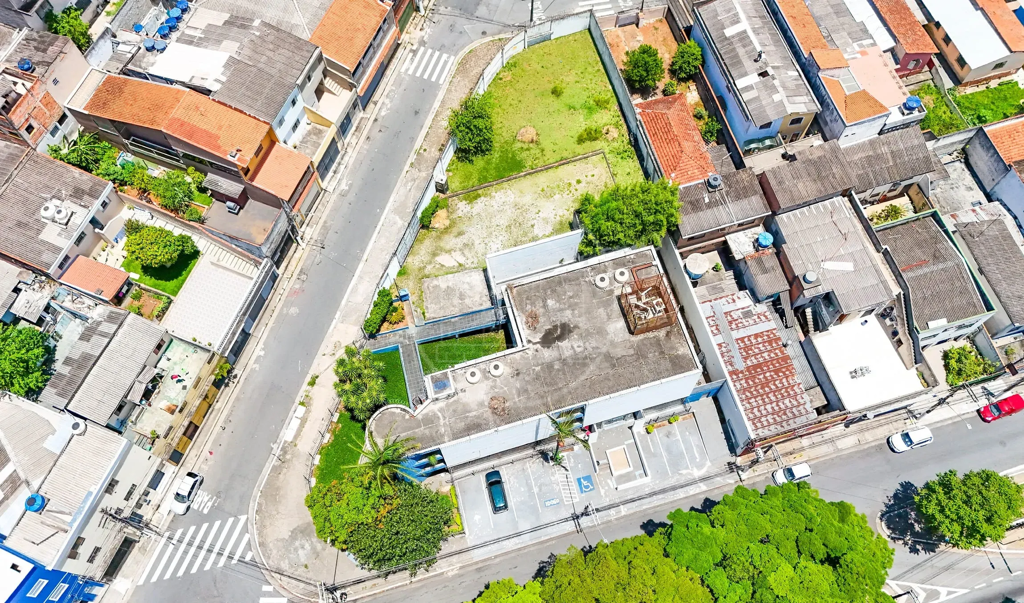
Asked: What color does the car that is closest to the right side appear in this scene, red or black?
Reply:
red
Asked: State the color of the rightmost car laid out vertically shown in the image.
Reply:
blue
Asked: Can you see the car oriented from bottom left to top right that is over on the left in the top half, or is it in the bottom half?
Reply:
bottom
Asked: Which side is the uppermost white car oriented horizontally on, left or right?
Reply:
right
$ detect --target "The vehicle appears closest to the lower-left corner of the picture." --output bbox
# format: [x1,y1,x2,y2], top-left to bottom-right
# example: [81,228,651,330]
[169,469,205,515]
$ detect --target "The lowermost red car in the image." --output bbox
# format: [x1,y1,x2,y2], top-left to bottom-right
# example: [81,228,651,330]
[981,394,1024,422]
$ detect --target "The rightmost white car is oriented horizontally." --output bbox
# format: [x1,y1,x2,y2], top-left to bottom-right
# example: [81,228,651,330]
[886,426,936,453]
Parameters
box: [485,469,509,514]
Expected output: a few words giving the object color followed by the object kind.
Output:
blue car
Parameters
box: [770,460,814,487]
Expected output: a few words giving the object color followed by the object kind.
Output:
white car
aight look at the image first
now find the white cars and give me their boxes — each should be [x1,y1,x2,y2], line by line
[169,469,205,515]
[886,426,936,453]
[770,460,814,487]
